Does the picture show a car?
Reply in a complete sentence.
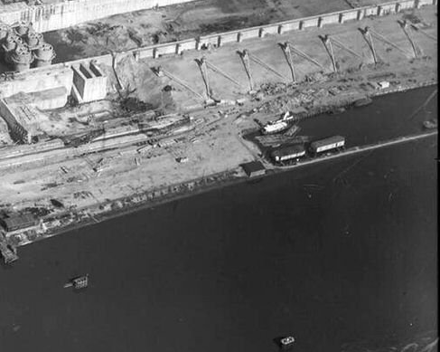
No, there's no car here.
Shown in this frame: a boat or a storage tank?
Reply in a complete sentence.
The one in the frame is a boat.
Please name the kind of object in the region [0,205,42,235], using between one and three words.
shed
